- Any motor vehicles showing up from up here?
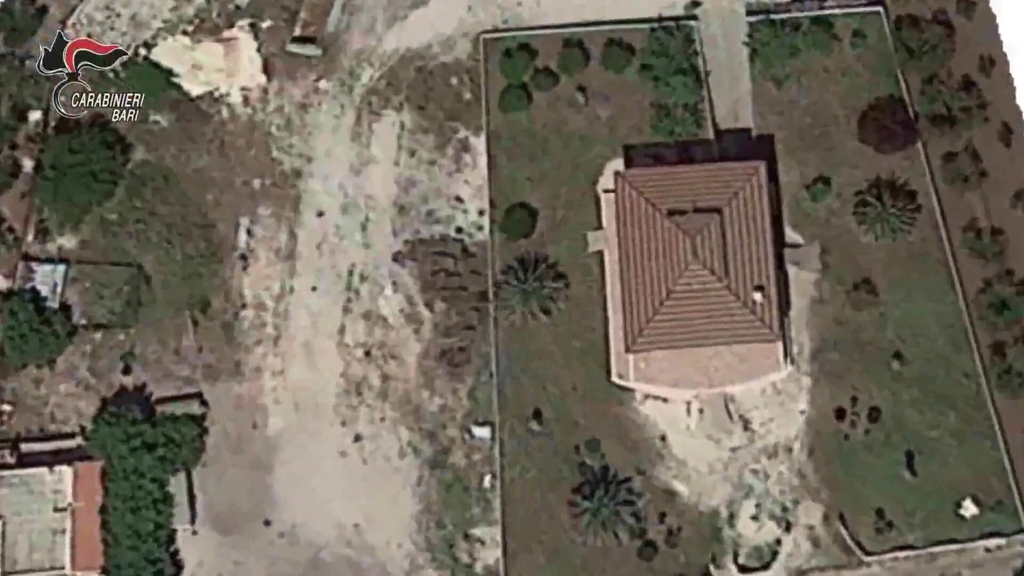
No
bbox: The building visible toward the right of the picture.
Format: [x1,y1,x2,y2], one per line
[587,160,817,398]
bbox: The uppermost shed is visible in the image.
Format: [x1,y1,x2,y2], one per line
[293,0,331,39]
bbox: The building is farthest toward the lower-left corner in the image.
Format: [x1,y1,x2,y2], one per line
[0,461,104,576]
